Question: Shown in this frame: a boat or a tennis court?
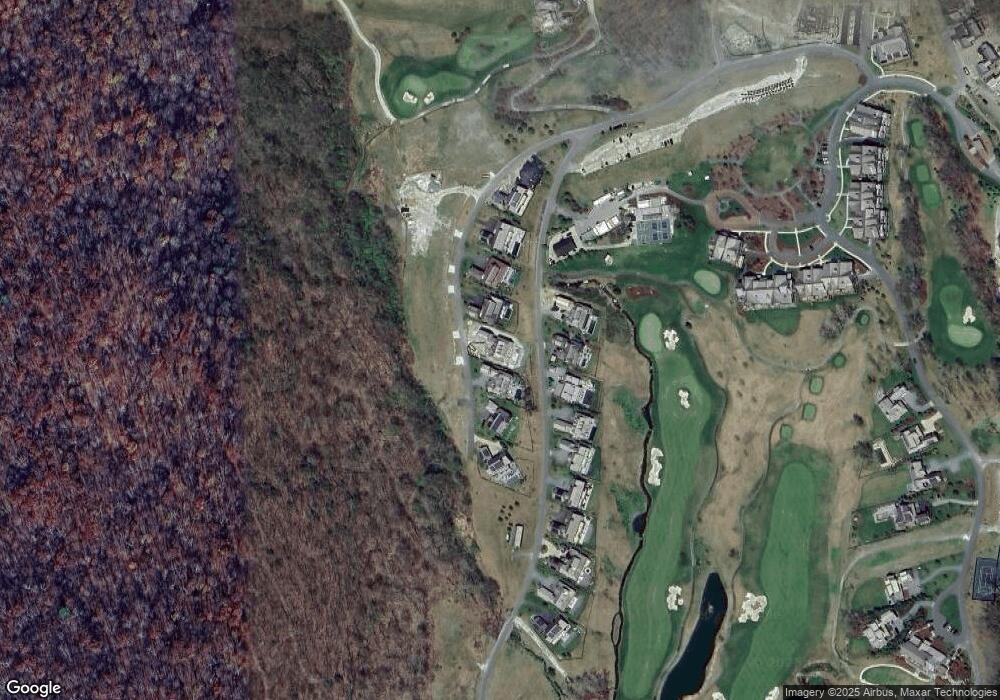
tennis court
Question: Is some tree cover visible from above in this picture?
Yes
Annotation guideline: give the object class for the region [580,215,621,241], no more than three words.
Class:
building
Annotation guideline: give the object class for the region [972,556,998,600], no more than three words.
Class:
tennis court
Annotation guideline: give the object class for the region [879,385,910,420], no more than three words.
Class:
house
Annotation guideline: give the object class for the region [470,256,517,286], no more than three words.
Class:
house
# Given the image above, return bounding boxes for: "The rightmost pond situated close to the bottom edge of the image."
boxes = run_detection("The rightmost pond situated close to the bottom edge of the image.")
[659,571,728,700]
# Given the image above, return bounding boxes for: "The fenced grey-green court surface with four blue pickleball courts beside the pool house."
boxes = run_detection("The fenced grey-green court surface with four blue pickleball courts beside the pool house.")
[634,219,674,244]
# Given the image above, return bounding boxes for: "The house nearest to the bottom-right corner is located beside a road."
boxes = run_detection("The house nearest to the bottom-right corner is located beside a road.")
[900,635,951,680]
